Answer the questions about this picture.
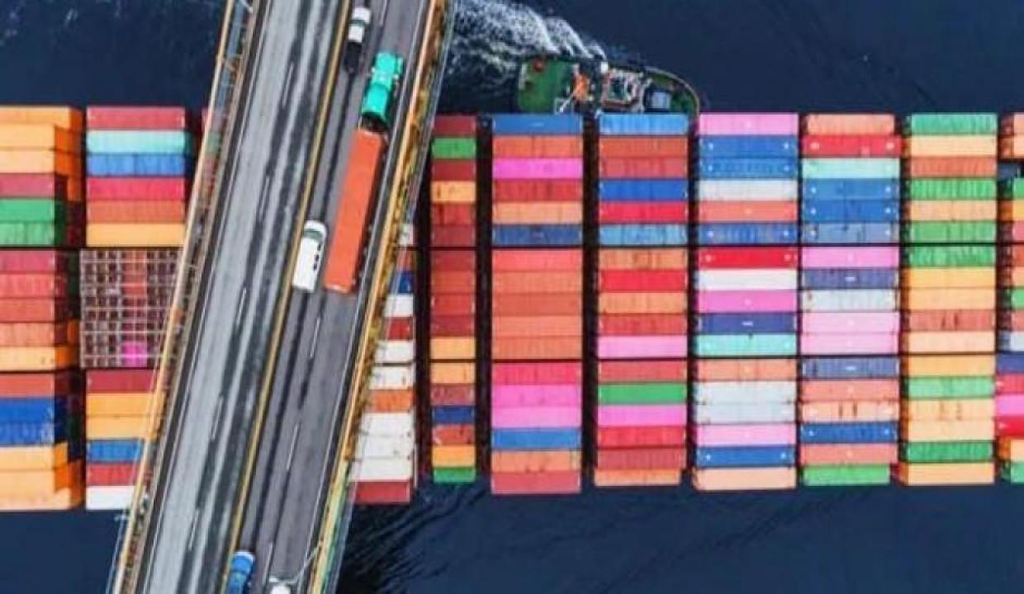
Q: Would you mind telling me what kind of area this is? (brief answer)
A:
port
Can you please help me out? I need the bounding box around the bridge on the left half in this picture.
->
[105,0,463,594]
